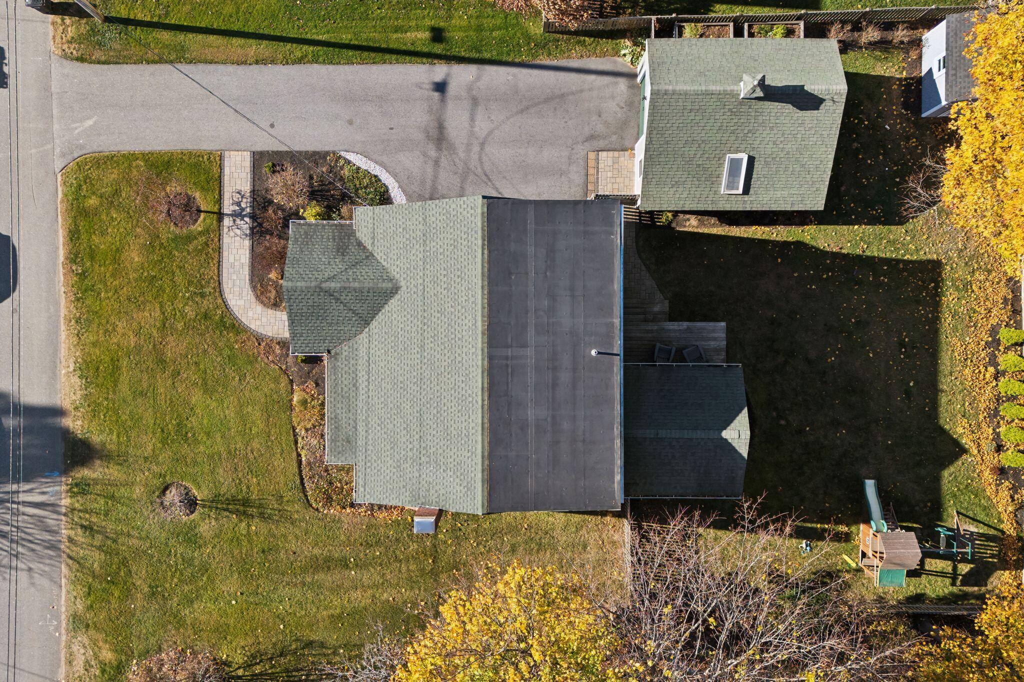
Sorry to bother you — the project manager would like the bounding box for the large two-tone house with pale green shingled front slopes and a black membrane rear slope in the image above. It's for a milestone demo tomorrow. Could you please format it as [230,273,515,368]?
[283,196,750,530]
